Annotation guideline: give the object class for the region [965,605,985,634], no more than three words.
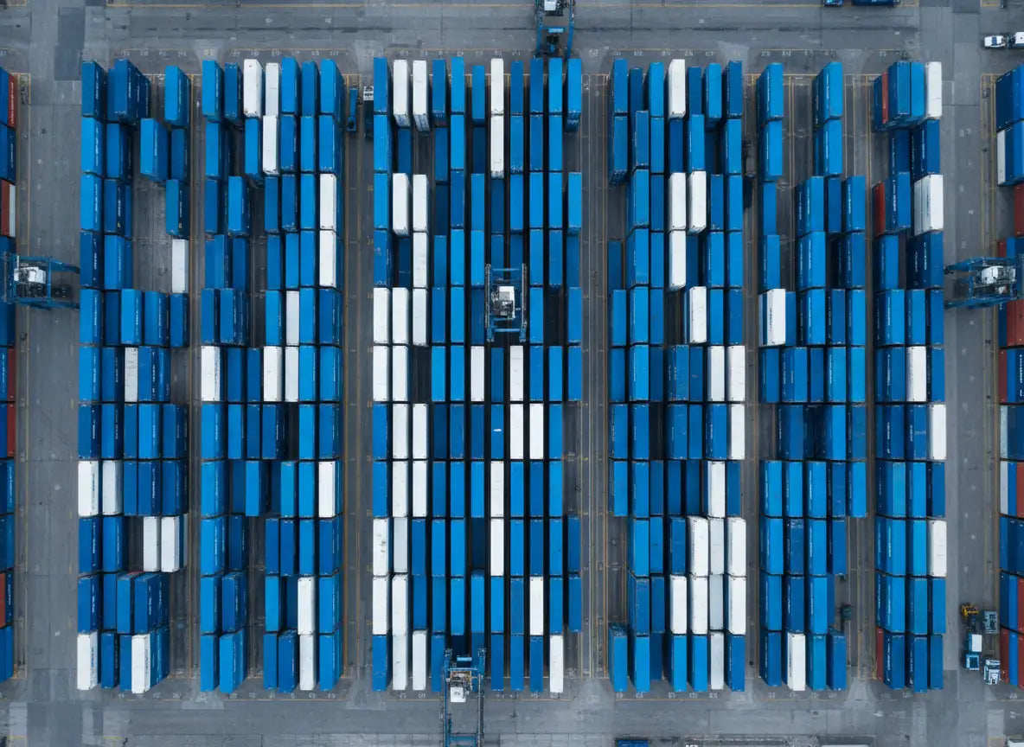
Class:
work vehicle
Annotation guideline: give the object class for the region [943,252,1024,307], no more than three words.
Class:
work vehicle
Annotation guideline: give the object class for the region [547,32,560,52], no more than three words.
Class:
vehicle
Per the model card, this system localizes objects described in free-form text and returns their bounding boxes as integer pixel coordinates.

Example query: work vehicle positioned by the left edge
[0,252,80,309]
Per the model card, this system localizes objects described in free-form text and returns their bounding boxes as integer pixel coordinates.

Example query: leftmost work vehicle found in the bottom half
[442,632,486,747]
